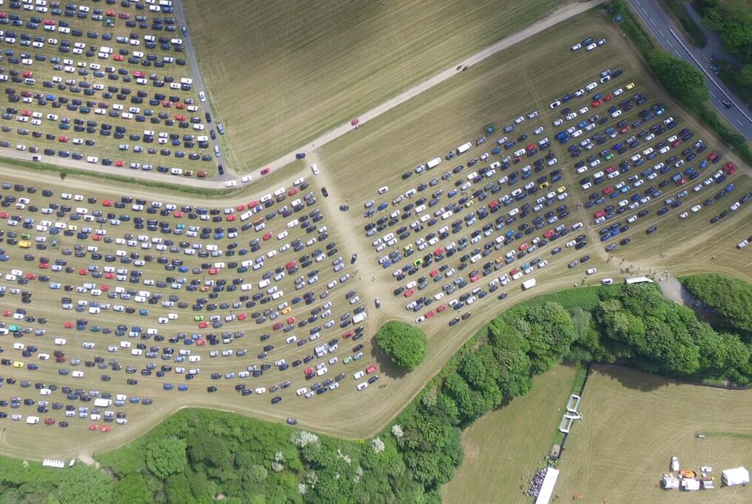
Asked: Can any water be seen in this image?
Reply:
No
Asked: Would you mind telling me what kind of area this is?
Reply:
parking lot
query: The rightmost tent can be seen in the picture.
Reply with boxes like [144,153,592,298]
[718,463,750,487]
